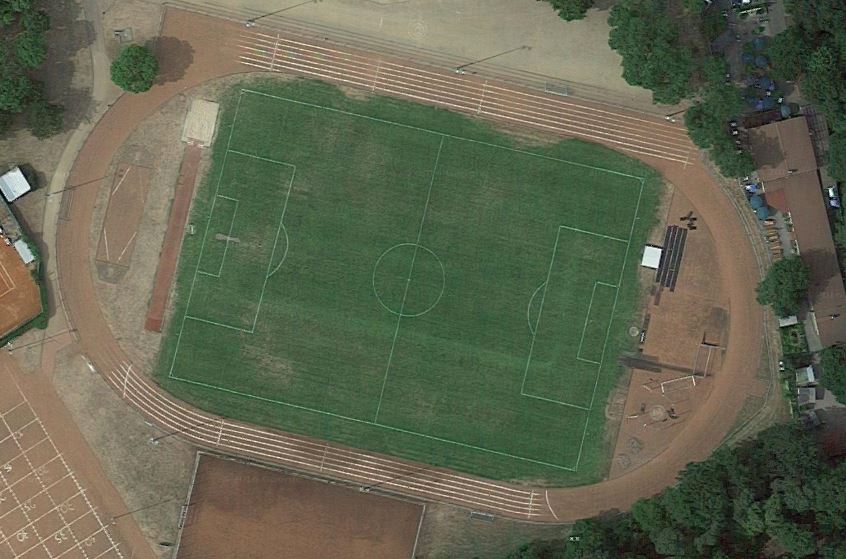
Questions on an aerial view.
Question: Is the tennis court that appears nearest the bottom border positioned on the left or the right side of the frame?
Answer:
left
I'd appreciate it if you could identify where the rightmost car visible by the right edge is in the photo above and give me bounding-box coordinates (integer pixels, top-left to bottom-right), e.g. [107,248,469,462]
[826,186,839,208]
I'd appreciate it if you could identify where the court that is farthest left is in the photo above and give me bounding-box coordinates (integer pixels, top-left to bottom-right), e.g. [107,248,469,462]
[0,236,40,337]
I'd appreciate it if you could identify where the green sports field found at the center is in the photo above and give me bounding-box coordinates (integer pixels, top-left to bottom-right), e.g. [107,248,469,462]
[154,77,663,489]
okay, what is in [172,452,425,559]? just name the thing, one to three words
sports field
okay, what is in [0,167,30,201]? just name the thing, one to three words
shed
